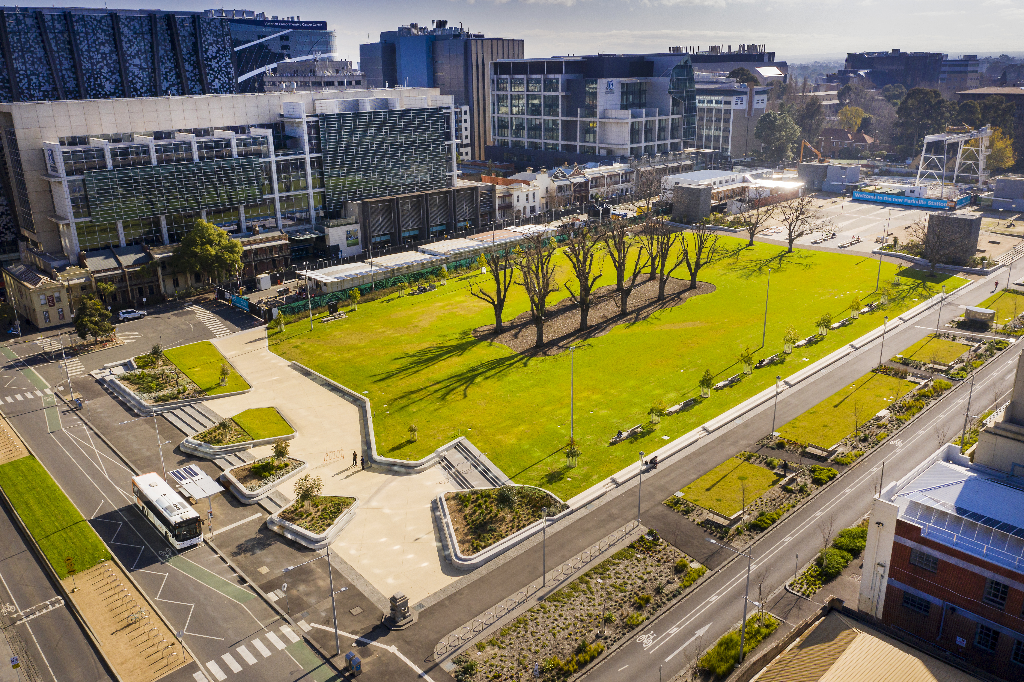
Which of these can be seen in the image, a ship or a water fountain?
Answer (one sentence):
Of the two, only a water fountain appears.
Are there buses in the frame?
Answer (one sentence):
Yes, this view includes a bus.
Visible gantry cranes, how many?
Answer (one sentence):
In total, 1 gantry crane can be seen.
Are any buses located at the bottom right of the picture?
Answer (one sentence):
No, I can find no bus at the bottom right of the picture.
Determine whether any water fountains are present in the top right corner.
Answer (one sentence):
No, looking in the top right corner, there is no water fountain.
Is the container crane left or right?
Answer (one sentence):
The container crane is on the right side of the image.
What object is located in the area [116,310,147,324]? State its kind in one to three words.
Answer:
car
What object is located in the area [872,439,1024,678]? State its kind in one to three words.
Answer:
building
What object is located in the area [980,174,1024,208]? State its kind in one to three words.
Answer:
house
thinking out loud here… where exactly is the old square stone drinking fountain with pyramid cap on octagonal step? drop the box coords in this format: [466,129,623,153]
[379,583,420,632]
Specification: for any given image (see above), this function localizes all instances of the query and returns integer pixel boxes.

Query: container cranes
[917,122,998,197]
